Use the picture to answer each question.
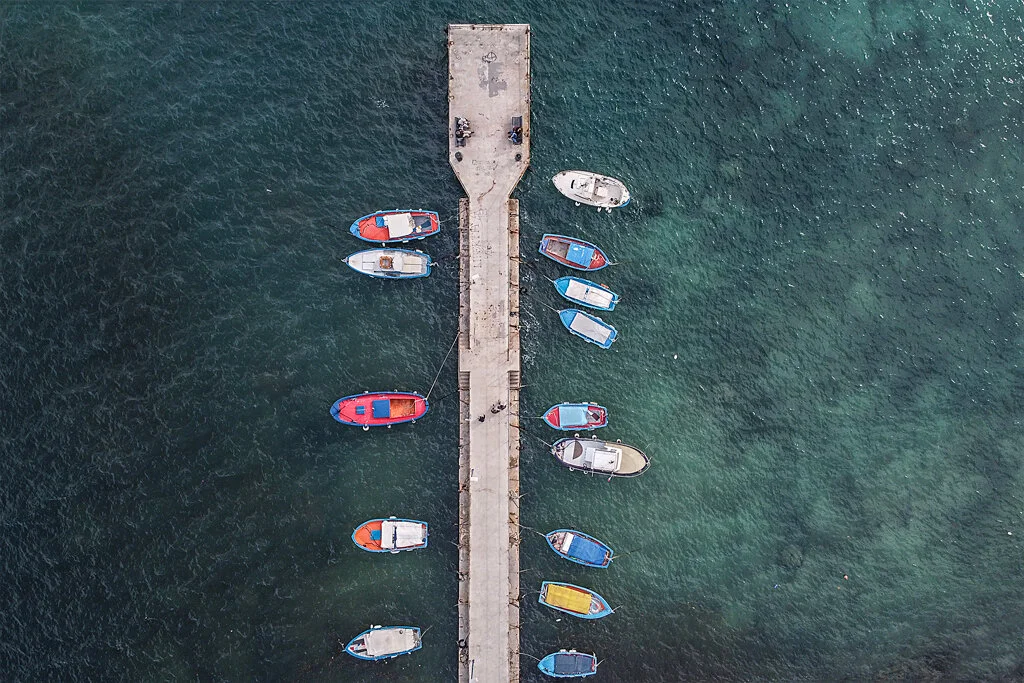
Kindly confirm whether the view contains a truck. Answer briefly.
No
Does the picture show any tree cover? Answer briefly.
No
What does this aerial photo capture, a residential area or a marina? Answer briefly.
marina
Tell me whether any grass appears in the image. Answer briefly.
No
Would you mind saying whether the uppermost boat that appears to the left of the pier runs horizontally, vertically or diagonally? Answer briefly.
horizontally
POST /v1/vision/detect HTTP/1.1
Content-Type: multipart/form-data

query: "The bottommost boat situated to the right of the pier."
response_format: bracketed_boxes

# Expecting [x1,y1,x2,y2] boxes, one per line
[538,649,597,677]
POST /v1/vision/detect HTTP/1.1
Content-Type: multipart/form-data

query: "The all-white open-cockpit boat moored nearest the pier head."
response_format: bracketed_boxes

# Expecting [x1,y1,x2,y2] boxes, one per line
[552,170,630,213]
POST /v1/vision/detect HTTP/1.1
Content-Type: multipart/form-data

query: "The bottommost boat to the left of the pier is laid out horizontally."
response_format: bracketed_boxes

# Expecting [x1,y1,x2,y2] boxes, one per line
[345,624,423,662]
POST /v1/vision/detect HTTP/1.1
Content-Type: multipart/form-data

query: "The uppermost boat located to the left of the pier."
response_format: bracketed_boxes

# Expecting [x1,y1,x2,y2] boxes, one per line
[349,208,439,246]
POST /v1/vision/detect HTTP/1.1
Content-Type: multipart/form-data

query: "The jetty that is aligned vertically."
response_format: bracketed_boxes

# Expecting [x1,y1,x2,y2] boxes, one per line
[448,24,530,683]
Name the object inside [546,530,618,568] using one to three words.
boat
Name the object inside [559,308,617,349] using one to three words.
boat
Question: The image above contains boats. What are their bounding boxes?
[552,433,650,482]
[329,389,429,431]
[538,649,597,677]
[539,234,610,271]
[345,624,423,662]
[345,249,435,279]
[552,170,630,213]
[546,530,618,568]
[554,276,619,311]
[538,580,613,619]
[349,208,439,246]
[351,516,428,554]
[543,401,608,431]
[559,308,617,349]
